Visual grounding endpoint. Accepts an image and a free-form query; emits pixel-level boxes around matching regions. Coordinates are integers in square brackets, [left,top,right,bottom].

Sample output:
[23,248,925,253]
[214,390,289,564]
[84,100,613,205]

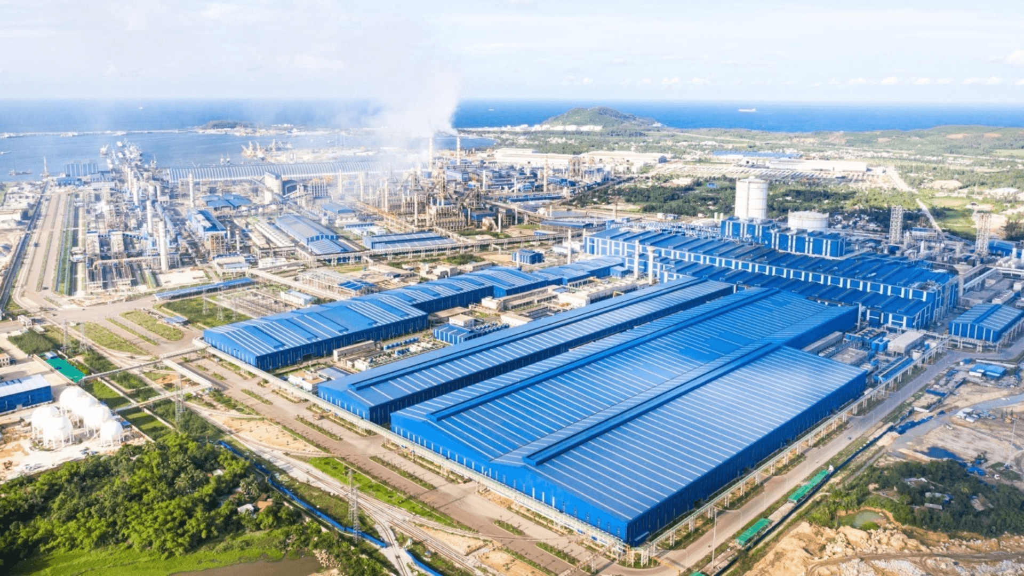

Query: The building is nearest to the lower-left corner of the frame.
[0,375,53,414]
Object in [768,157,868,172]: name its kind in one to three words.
building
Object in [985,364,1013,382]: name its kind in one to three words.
shed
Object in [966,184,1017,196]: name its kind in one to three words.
building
